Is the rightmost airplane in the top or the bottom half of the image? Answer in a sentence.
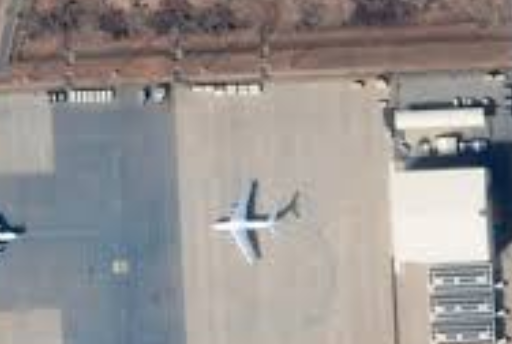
The rightmost airplane is in the bottom half of the image.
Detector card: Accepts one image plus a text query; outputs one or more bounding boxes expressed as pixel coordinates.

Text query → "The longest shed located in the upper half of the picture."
[394,107,487,130]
